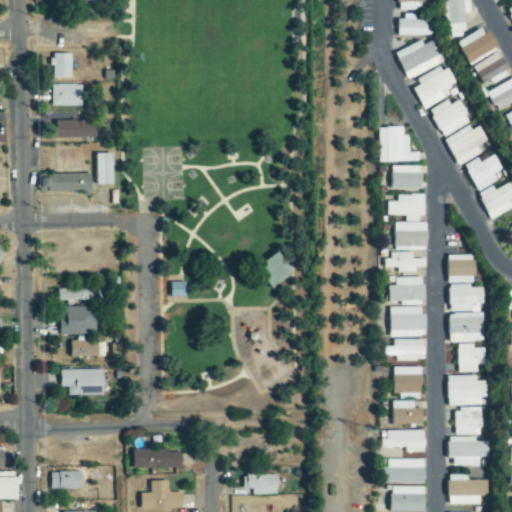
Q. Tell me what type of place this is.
residential area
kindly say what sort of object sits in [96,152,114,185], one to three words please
barn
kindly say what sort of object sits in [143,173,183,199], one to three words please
basketball court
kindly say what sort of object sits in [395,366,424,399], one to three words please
house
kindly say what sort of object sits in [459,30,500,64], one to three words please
house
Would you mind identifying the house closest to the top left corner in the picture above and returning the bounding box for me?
[52,52,73,78]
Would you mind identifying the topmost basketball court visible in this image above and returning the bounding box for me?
[143,147,183,176]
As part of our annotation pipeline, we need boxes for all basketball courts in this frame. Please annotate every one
[143,173,183,199]
[143,147,183,176]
